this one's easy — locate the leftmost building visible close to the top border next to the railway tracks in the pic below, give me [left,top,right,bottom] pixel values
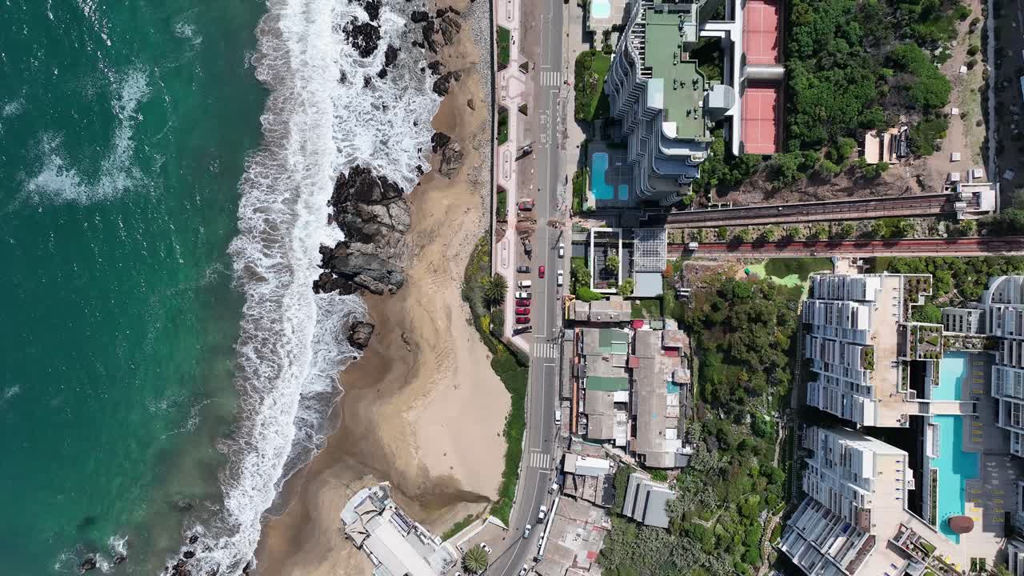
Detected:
[601,0,713,207]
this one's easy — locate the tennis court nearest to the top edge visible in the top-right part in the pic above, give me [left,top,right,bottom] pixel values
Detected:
[740,0,774,81]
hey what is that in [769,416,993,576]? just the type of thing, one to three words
building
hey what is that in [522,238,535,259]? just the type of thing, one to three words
vehicle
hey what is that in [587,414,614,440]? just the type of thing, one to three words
house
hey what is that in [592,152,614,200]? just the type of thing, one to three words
swimming pool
